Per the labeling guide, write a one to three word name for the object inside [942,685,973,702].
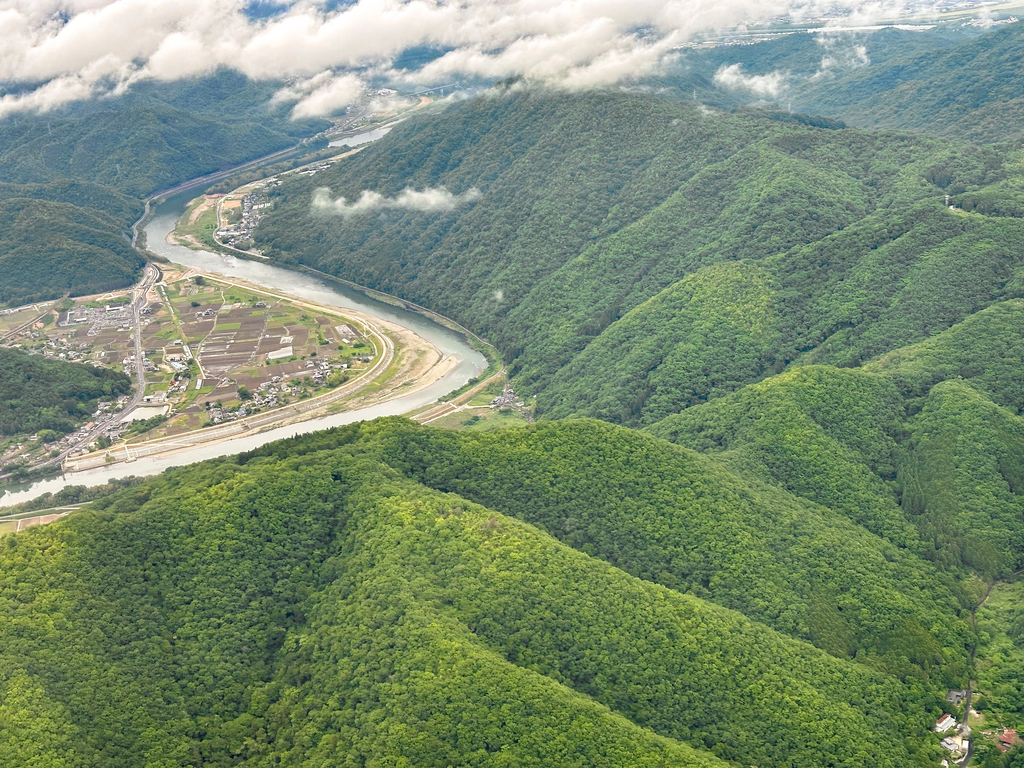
house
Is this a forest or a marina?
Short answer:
forest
